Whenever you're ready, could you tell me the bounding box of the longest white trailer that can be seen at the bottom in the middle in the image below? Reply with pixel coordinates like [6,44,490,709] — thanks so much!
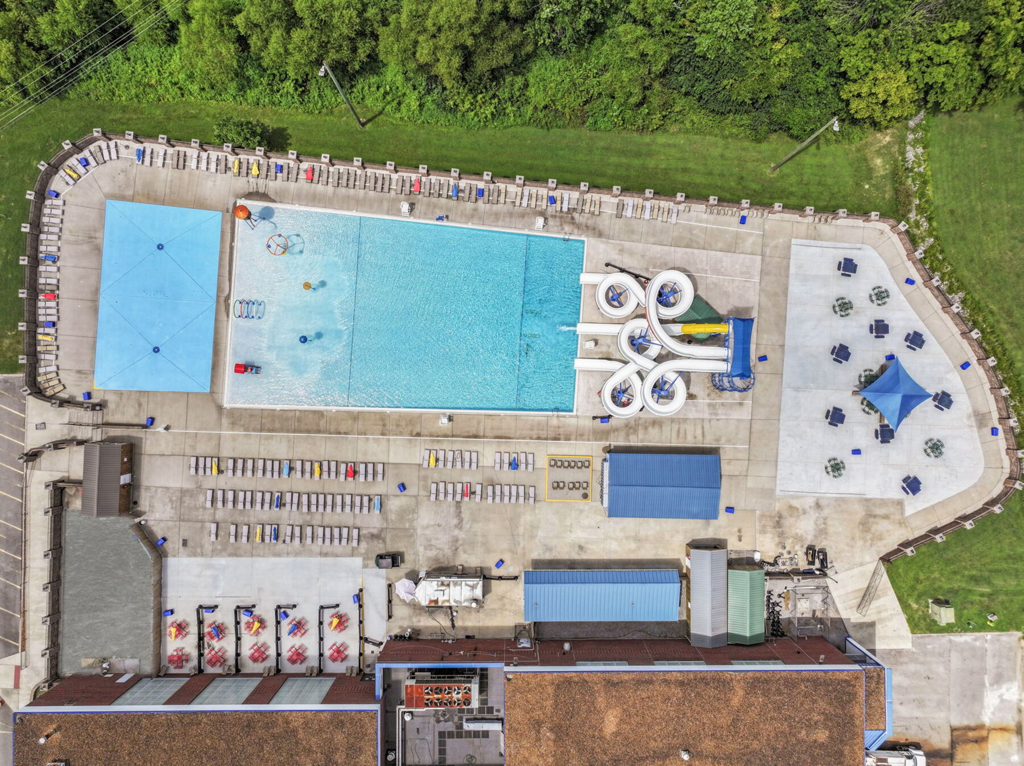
[415,573,483,608]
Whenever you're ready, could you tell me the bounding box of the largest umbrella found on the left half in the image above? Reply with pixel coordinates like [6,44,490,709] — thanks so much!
[394,580,416,604]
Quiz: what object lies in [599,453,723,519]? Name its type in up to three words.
building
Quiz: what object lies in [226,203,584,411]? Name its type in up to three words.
swimming pool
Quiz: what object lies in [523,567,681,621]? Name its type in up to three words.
building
